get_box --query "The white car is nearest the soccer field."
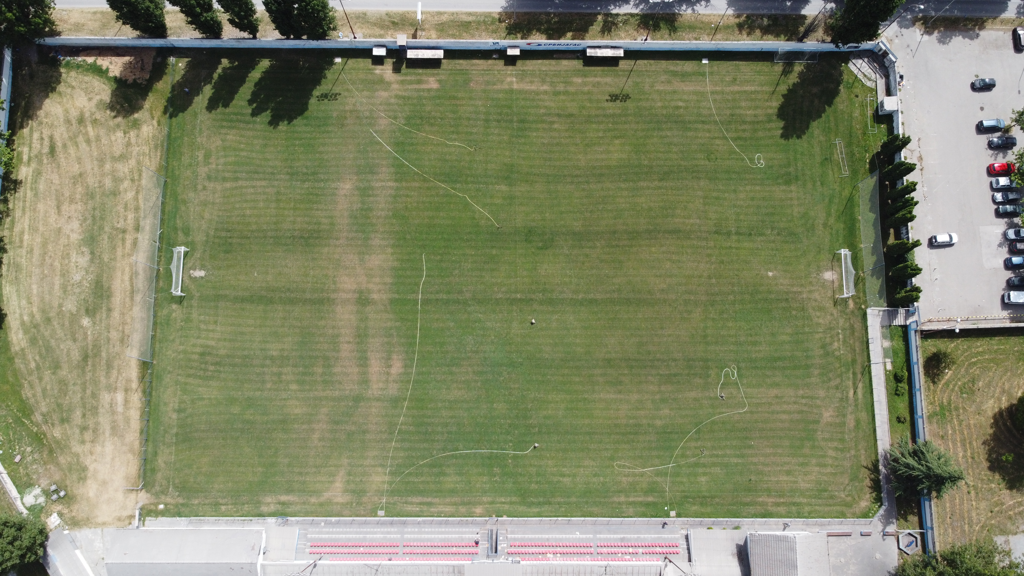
[929,232,958,246]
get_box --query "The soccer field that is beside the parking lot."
[137,49,891,518]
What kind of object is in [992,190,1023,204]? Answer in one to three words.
car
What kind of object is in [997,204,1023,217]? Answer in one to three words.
vehicle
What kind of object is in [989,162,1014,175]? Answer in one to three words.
vehicle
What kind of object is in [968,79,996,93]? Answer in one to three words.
car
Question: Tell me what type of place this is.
sports ground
